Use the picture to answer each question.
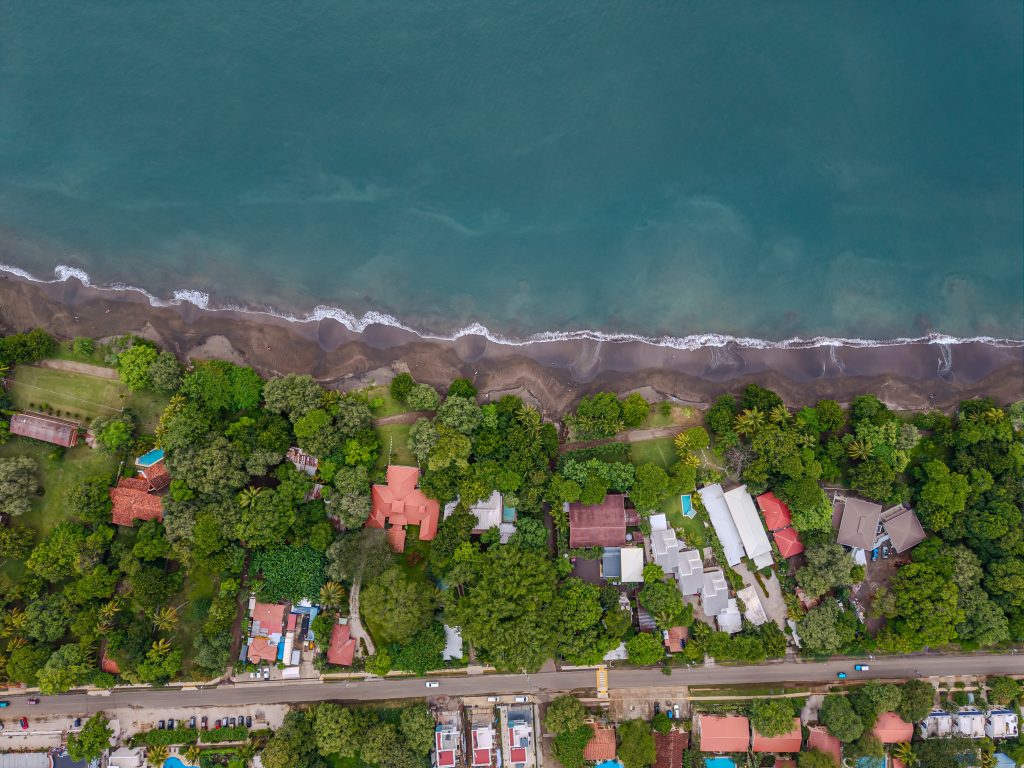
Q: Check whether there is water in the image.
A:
Yes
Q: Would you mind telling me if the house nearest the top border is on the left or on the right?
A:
left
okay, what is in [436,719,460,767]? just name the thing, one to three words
house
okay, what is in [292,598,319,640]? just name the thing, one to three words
building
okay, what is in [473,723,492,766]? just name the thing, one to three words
house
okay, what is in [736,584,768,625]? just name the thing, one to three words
building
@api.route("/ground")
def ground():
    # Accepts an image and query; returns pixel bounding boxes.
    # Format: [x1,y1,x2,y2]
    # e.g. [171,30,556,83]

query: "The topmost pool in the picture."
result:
[136,448,164,467]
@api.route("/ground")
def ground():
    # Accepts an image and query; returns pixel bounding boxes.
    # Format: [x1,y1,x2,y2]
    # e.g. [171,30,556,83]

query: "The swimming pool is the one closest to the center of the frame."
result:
[503,506,516,522]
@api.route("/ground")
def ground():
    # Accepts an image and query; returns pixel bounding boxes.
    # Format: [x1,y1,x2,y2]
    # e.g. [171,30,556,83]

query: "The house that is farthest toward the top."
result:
[10,410,79,447]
